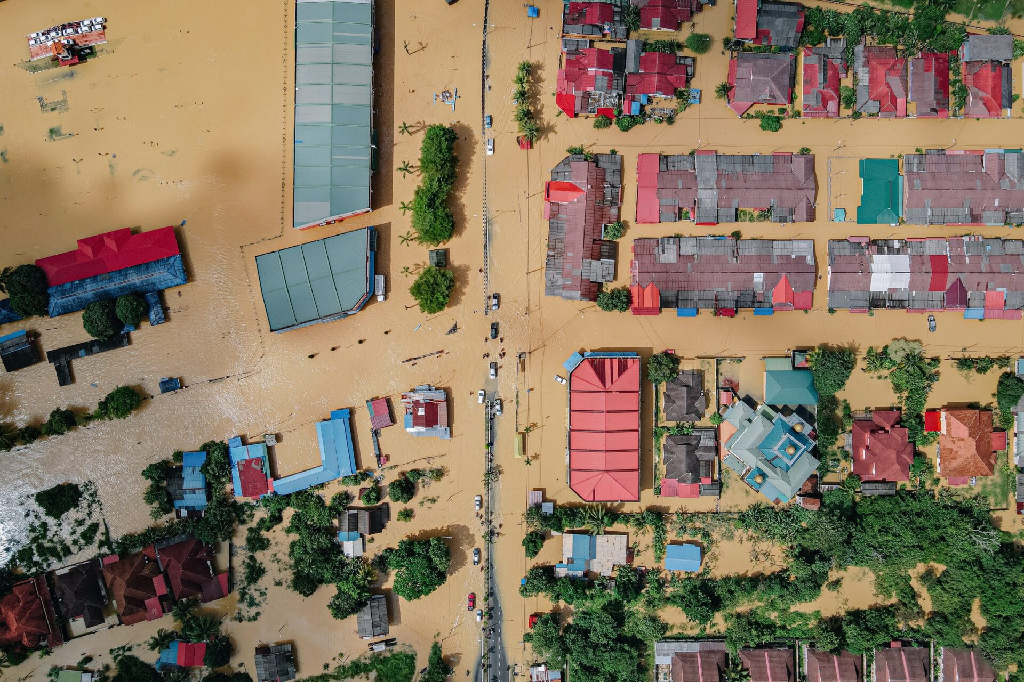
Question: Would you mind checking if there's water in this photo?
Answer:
Yes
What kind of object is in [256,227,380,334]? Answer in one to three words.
building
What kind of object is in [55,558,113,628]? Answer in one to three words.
house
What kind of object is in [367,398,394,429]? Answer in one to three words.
shed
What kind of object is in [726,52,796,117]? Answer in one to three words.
house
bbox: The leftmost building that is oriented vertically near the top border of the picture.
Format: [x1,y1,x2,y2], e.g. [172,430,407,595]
[294,0,378,235]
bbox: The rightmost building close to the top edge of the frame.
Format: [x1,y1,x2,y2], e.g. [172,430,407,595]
[953,32,1012,119]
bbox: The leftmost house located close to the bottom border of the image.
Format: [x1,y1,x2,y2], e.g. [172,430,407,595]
[0,575,69,649]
